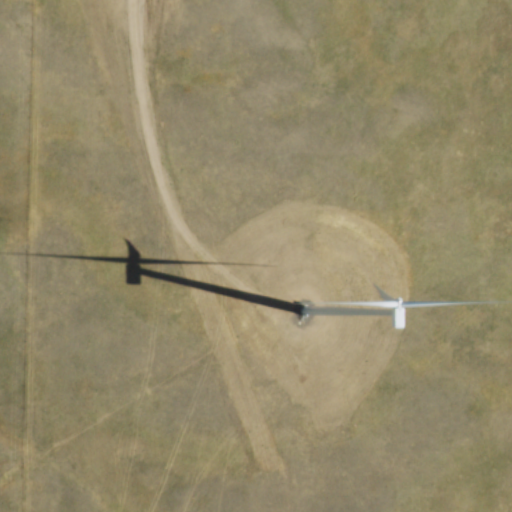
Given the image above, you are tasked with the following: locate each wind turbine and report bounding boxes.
[296,282,498,328]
